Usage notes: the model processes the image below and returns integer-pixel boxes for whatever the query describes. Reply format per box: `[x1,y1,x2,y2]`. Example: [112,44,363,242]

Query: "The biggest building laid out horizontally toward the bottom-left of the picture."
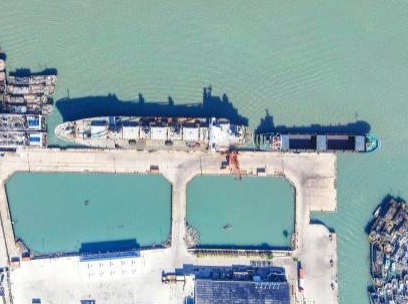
[79,257,139,277]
